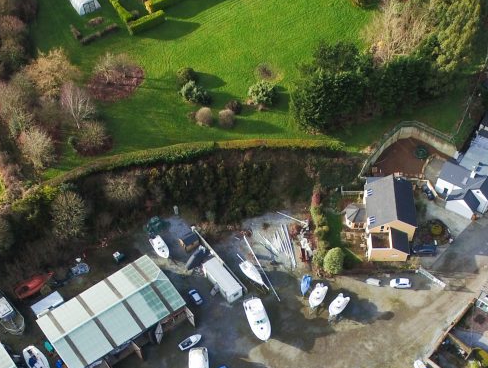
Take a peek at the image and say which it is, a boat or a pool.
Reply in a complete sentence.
Visible in the photo is a boat.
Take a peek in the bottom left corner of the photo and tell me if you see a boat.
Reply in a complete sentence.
Yes, there is a boat in the bottom left corner of the photo.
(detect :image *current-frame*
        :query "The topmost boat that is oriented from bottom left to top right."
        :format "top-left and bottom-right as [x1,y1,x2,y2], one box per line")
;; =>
[184,246,210,272]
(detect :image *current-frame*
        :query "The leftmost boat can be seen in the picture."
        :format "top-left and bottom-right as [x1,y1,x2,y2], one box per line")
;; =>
[0,288,24,335]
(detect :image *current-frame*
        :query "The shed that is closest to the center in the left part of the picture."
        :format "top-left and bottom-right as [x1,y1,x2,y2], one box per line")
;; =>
[179,232,201,253]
